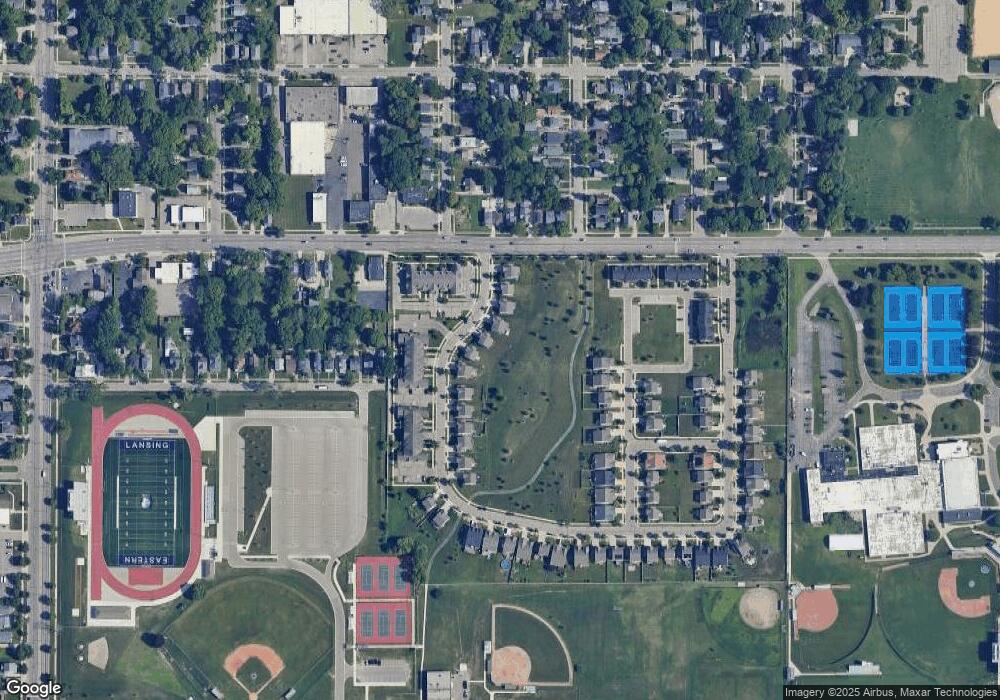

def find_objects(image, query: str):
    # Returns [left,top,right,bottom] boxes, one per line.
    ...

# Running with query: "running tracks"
[92,403,202,600]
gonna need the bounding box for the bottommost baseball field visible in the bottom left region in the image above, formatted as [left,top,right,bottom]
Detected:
[166,576,333,700]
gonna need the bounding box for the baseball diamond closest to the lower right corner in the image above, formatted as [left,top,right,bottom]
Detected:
[938,564,991,619]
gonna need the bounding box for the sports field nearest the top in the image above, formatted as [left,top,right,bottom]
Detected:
[104,437,190,568]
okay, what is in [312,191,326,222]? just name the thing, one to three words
building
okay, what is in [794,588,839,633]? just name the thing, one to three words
baseball field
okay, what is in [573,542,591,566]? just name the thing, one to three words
house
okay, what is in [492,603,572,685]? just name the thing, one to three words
baseball field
